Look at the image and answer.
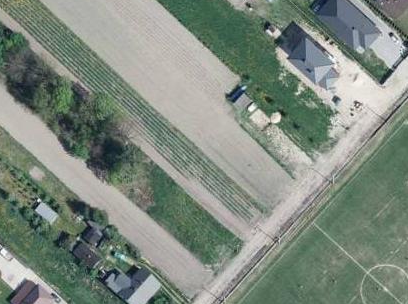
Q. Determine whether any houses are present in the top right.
Yes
